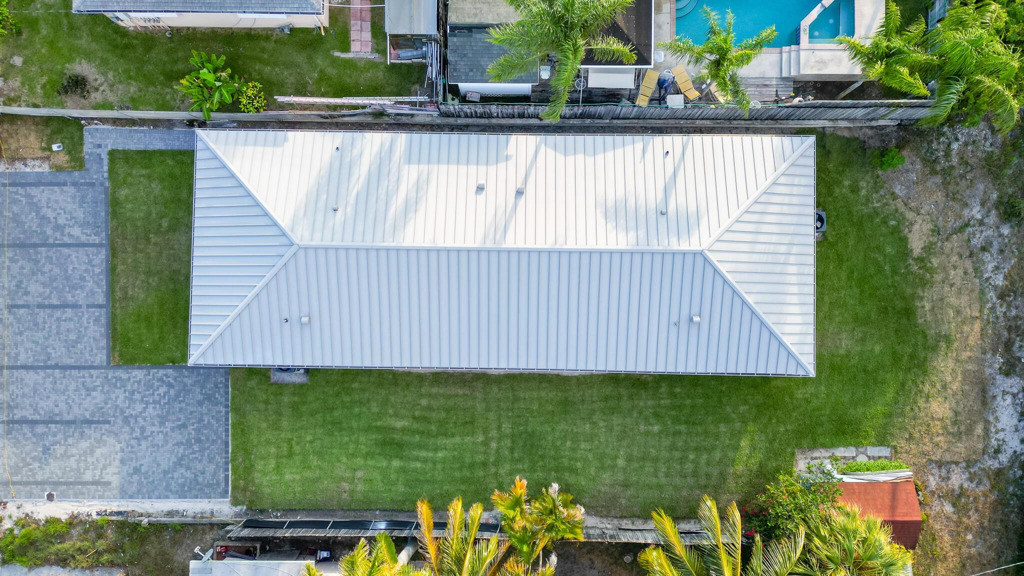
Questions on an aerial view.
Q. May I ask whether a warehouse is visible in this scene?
No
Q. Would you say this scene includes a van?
No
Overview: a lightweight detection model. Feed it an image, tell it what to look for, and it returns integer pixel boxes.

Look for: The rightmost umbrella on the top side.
[651,75,675,107]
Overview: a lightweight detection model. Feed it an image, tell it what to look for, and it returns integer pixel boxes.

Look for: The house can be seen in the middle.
[189,129,816,376]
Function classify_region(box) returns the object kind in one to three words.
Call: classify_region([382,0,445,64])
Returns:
shed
